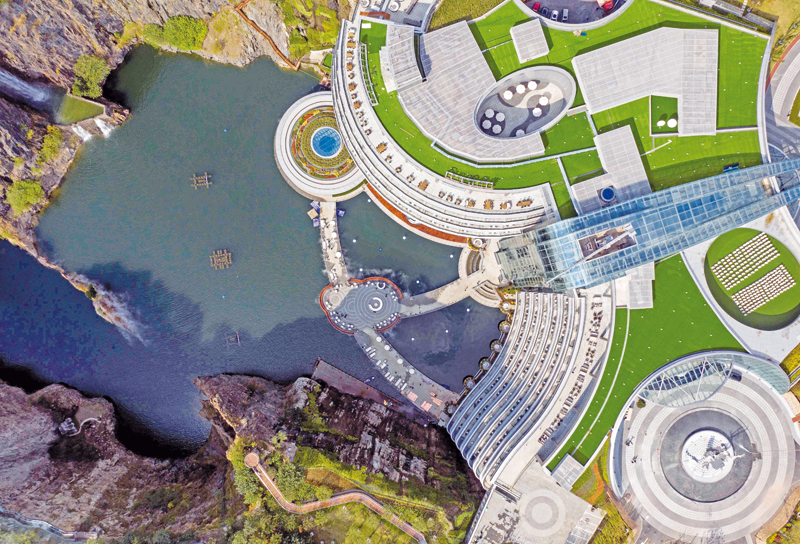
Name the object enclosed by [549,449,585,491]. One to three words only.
building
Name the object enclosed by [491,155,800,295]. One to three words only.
building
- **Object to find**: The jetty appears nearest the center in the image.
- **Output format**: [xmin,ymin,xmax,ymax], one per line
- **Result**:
[312,360,448,431]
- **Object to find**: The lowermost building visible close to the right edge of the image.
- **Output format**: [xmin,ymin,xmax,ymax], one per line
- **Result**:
[603,349,795,500]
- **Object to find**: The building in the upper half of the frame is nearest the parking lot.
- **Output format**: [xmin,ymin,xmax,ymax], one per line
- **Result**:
[508,18,549,67]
